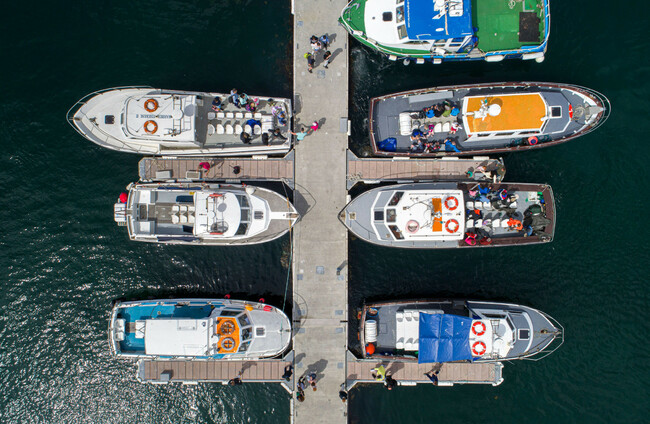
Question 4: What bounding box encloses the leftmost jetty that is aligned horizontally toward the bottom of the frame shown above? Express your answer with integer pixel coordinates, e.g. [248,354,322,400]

[137,352,293,392]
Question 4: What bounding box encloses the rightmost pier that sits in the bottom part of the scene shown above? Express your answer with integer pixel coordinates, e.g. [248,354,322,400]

[348,353,500,392]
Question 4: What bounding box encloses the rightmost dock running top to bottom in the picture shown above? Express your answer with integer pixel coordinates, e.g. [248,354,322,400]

[291,0,350,424]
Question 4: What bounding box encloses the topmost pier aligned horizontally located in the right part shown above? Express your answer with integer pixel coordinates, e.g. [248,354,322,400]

[348,152,500,189]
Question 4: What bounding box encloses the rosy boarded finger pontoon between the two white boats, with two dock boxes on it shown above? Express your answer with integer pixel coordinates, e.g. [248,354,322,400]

[138,152,293,189]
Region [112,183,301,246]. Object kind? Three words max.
boat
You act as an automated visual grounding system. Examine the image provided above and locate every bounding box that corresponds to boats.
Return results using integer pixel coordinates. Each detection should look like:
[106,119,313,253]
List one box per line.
[112,183,301,246]
[337,0,550,63]
[337,182,558,248]
[358,298,564,362]
[369,83,610,157]
[66,84,293,157]
[108,297,293,361]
